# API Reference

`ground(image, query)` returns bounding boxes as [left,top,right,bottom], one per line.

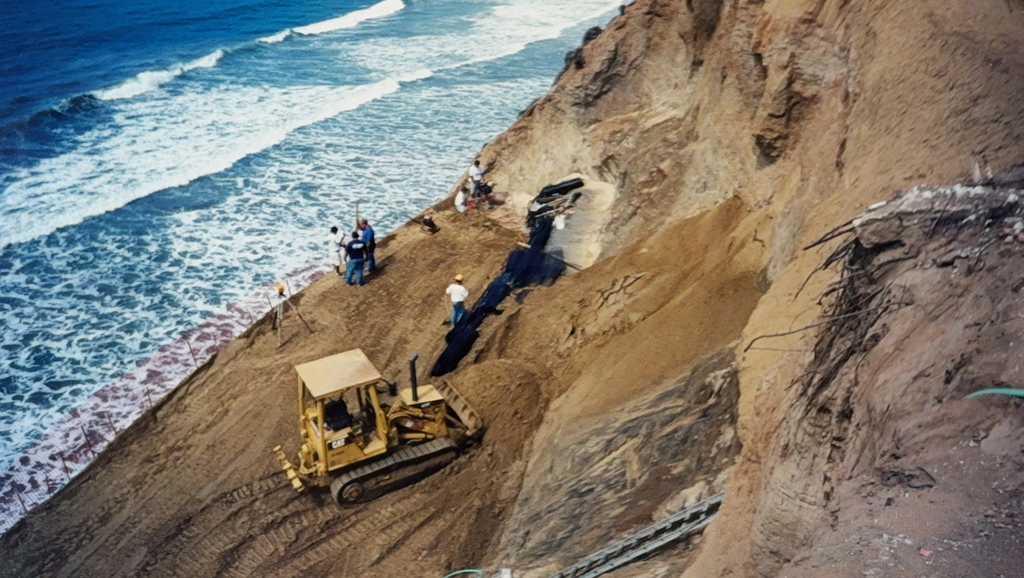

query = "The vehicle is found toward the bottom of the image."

[272,346,484,506]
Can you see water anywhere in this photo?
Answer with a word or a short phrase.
Yes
